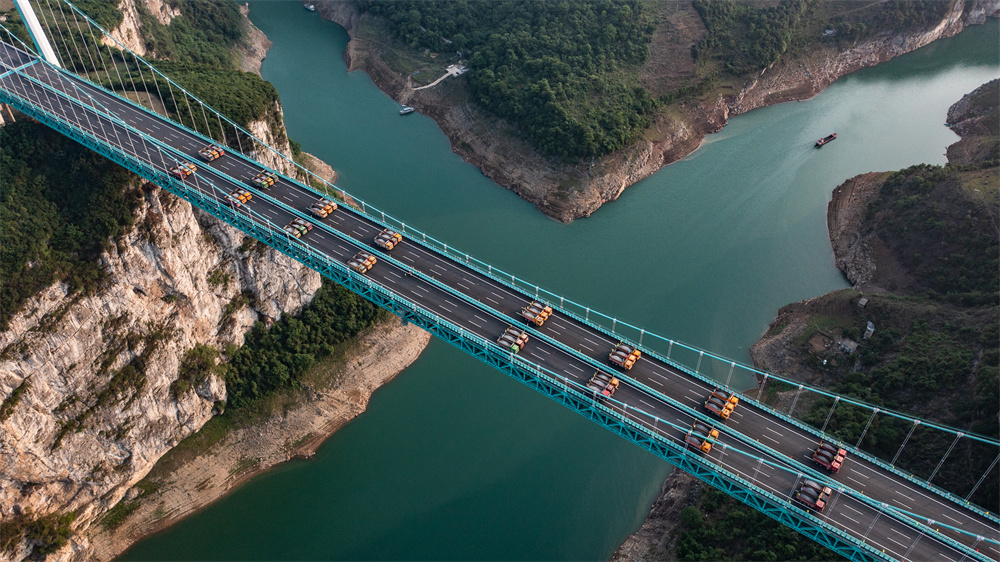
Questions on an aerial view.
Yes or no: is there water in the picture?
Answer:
Yes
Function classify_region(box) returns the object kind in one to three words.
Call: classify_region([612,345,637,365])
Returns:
vehicle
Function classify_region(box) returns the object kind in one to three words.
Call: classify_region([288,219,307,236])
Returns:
vehicle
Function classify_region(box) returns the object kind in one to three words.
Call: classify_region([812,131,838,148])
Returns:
ship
